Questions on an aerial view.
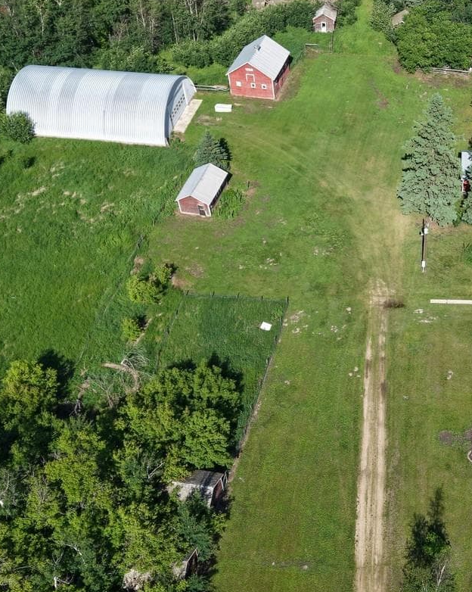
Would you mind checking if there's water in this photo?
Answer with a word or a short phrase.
No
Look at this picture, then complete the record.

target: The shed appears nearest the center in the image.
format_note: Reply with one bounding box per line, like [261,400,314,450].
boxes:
[175,163,228,216]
